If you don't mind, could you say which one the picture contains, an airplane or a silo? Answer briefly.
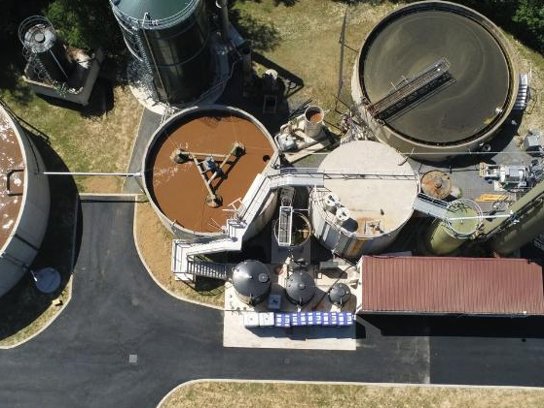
silo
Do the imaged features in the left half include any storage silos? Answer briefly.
Yes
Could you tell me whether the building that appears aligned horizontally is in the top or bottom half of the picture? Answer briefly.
bottom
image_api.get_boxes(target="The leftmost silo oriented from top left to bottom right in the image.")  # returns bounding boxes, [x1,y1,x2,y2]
[17,10,74,81]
